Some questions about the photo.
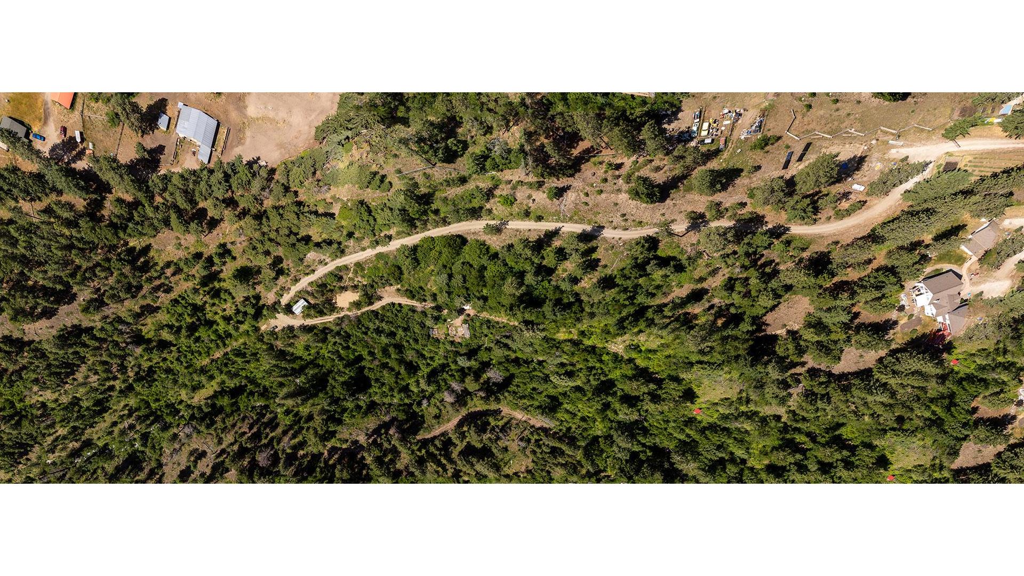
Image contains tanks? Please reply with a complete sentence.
No, there appears to be no tank in this shot.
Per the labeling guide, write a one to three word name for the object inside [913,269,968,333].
house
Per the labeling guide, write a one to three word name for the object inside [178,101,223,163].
barn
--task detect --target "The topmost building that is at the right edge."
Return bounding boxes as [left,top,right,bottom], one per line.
[959,219,999,259]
